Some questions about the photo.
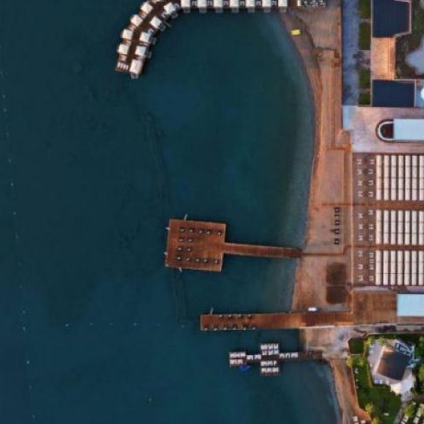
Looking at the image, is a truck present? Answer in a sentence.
No, there's no truck here.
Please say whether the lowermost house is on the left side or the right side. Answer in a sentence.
The lowermost house appears in the right half of the scene.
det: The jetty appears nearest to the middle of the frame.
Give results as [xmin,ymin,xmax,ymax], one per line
[165,219,302,272]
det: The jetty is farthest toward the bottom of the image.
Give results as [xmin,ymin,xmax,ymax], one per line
[229,343,322,375]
